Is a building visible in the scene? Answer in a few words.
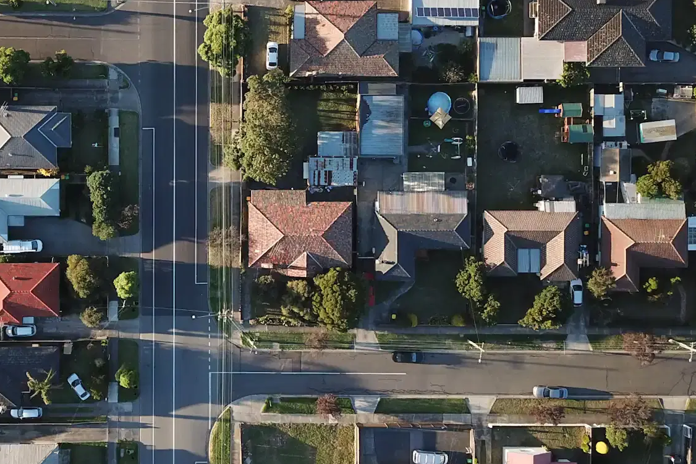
Yes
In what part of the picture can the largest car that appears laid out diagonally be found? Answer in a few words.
bottom left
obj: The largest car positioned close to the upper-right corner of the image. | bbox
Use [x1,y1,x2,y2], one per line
[646,49,680,64]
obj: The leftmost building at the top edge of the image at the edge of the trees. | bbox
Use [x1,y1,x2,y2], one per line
[288,0,411,78]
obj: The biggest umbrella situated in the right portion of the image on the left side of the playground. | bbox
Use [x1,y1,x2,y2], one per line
[427,108,449,131]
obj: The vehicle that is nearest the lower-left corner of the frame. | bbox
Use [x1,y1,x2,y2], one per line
[10,405,44,421]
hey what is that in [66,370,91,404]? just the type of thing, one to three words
car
